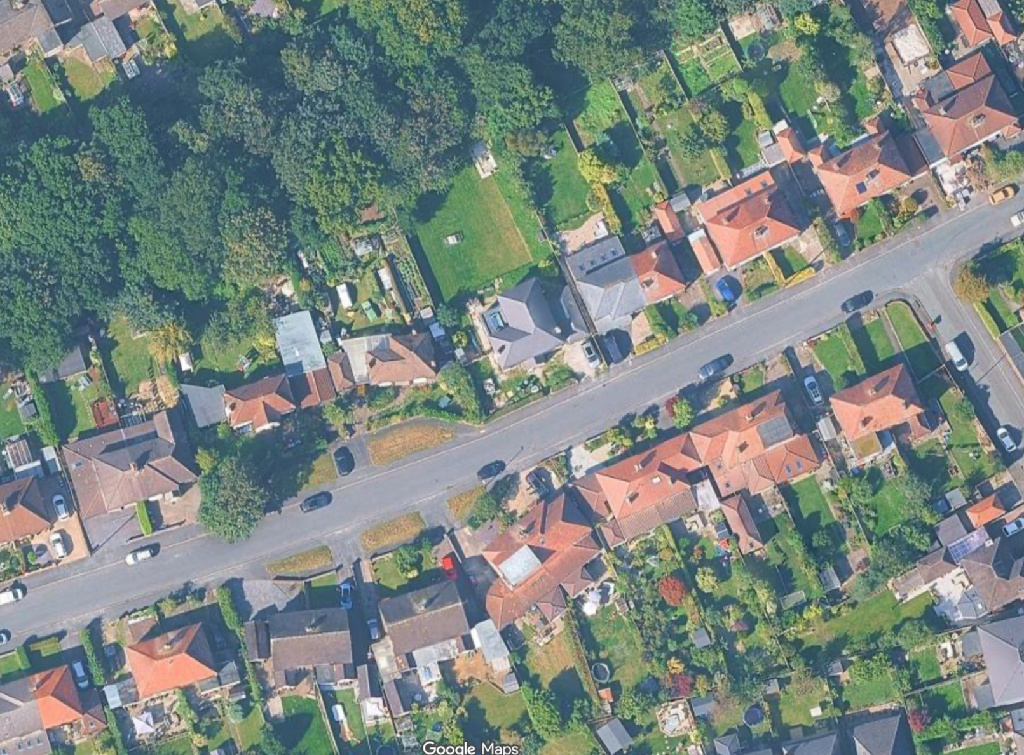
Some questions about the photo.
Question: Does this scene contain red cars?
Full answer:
Yes, there's a red car down there.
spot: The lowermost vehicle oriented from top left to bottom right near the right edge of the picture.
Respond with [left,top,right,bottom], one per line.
[994,423,1020,456]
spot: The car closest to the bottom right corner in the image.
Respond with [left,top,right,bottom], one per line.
[1000,516,1024,538]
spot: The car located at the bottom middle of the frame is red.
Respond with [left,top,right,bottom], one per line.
[441,552,458,581]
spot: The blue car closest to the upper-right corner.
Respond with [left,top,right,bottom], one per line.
[833,218,852,247]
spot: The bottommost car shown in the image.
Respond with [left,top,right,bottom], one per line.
[71,659,89,689]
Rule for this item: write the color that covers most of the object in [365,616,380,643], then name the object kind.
blue car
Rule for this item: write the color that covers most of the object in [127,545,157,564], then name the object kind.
white car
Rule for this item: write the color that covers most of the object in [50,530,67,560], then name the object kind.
white car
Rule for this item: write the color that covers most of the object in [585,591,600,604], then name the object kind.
white umbrella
